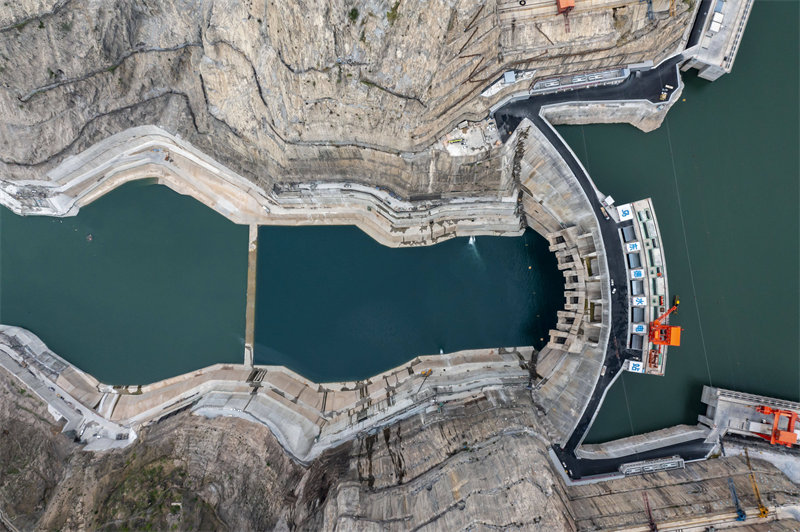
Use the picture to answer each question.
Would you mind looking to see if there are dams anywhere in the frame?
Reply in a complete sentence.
Yes, there's a dam here.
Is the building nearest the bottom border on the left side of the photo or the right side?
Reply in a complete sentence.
The building nearest the bottom border sits on the right side.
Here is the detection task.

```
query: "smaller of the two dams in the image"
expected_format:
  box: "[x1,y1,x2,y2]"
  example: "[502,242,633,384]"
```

[244,219,259,368]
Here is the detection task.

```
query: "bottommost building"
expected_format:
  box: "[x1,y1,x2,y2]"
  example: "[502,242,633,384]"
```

[616,442,720,475]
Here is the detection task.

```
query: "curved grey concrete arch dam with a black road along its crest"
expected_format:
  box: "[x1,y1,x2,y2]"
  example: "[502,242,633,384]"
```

[516,114,668,452]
